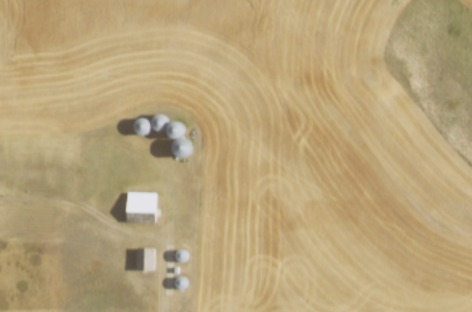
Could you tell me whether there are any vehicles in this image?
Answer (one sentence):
No, I can see no vehicle in this picture.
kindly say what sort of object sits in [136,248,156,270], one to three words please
shed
